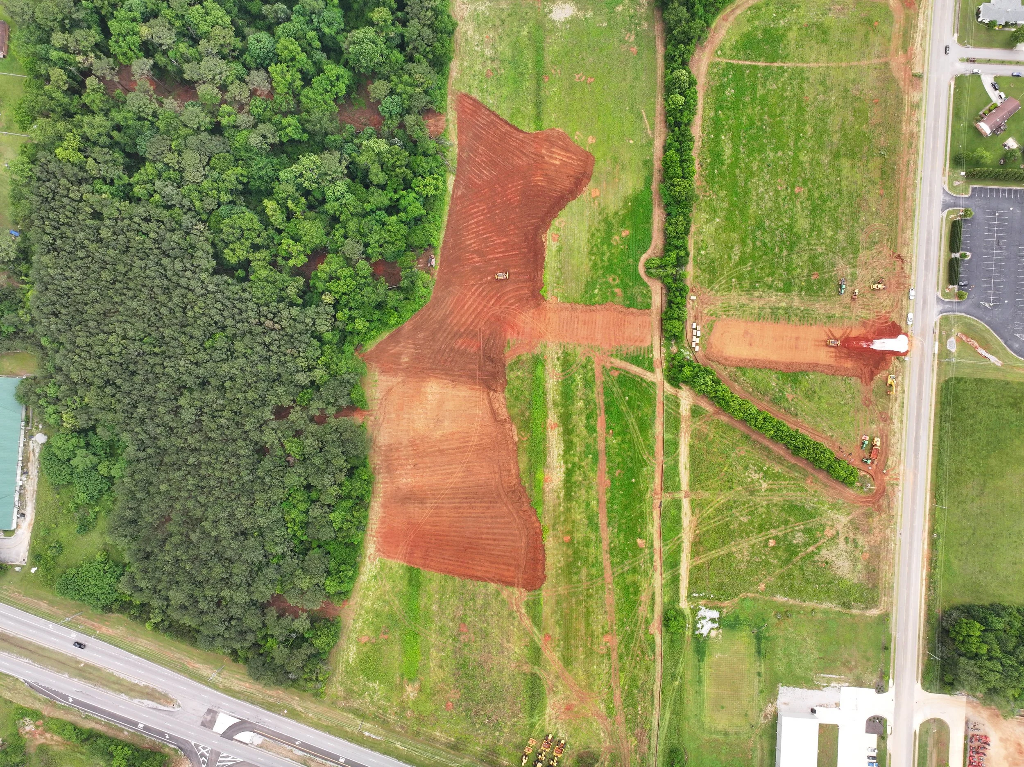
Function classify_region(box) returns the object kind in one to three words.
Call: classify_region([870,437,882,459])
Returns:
vehicle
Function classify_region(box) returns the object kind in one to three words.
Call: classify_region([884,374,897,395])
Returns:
vehicle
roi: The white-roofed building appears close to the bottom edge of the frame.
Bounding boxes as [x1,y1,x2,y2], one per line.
[775,713,818,767]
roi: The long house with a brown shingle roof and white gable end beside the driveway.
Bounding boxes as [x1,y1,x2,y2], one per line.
[973,96,1020,139]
